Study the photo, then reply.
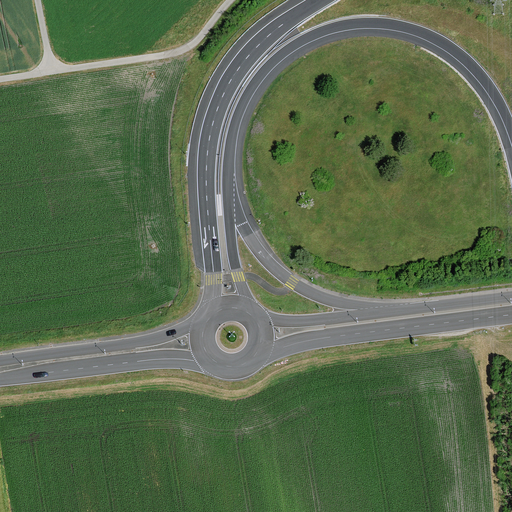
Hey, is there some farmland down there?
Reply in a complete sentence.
Yes, the picture does contain farmland.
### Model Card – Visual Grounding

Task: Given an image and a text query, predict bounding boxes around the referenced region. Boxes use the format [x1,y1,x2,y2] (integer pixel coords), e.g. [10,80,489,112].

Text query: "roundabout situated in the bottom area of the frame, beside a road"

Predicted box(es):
[190,294,274,380]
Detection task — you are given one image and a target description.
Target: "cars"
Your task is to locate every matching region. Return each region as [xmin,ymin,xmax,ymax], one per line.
[166,330,176,336]
[212,238,218,252]
[33,371,48,378]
